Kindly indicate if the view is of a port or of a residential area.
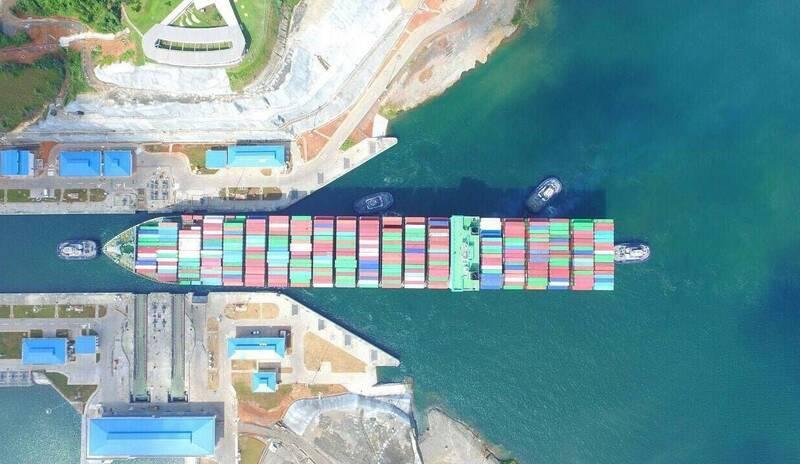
port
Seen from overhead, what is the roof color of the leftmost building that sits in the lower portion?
blue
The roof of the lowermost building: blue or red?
blue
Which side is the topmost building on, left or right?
left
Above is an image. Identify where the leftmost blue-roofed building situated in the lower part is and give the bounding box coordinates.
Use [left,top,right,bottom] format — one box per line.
[22,338,70,365]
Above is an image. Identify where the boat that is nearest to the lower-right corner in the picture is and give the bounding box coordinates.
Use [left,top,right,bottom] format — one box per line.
[614,243,651,262]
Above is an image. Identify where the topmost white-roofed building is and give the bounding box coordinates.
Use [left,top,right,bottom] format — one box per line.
[141,0,248,71]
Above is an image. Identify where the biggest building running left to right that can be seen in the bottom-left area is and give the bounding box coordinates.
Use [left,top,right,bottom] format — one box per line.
[88,414,219,457]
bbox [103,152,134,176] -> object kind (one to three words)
building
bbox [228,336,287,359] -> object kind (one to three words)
building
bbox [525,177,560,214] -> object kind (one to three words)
boat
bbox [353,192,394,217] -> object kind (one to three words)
boat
